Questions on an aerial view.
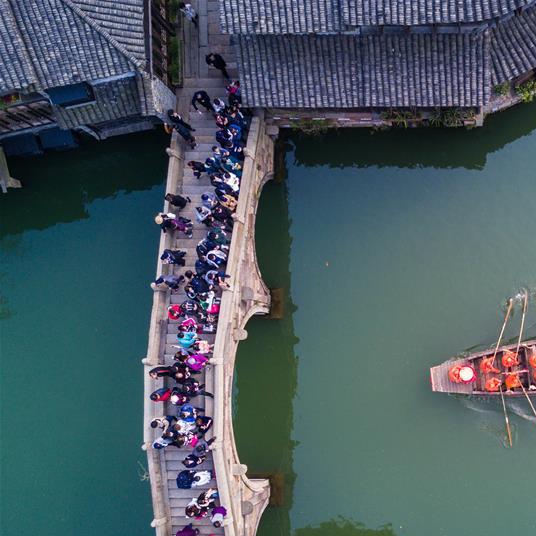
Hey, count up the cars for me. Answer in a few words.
0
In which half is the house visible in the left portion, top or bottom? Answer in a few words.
top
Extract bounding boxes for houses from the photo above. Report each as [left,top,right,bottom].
[0,0,175,164]
[210,0,536,124]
